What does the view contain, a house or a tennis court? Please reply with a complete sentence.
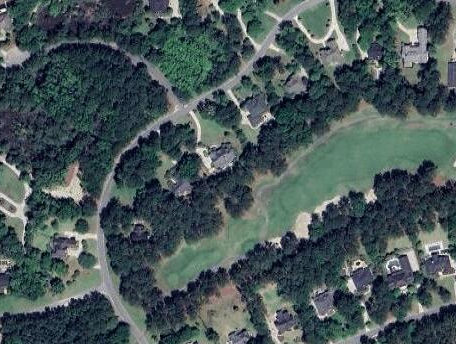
I can see a house in this picture.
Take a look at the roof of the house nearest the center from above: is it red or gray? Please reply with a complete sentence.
From above, the roof of the house nearest the center appears gray.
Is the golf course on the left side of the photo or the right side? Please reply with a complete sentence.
You can find the golf course on the right side of the picture.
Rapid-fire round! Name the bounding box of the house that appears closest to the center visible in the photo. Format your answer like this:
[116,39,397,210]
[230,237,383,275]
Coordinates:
[206,144,237,172]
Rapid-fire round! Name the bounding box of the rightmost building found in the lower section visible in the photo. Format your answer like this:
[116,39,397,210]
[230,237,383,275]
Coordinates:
[426,255,453,281]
